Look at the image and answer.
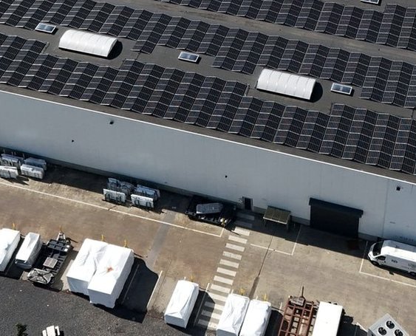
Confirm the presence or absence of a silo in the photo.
No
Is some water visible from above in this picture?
No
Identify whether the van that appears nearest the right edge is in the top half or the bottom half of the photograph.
bottom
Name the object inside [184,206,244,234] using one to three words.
trailer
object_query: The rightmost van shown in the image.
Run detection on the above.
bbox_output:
[369,239,416,272]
